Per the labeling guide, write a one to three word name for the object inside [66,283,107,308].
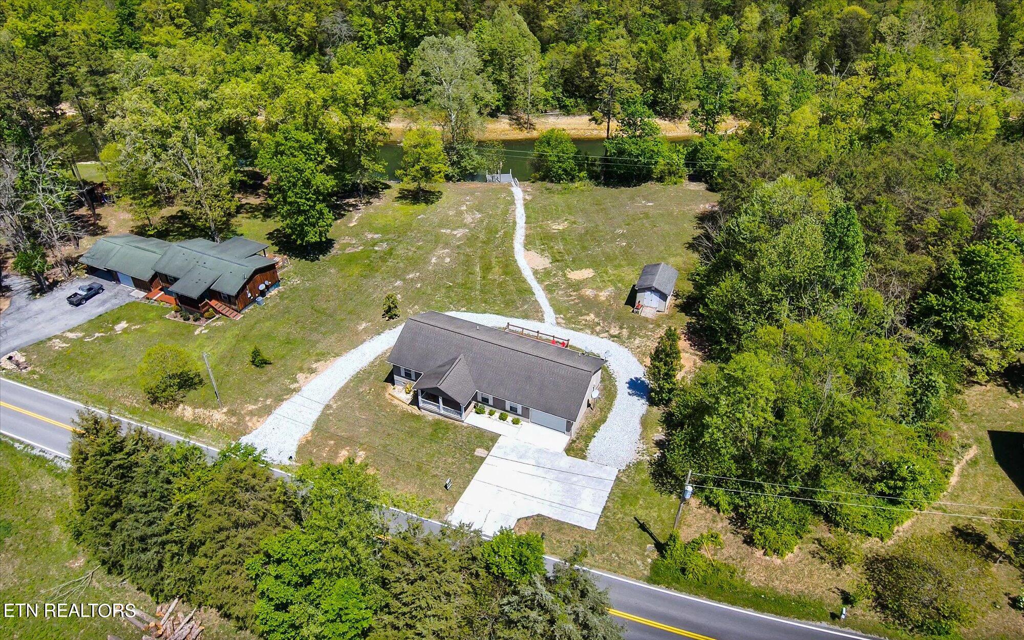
truck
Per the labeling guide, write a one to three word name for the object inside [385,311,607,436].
house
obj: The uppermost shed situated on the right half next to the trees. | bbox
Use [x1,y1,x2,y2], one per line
[635,265,679,321]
